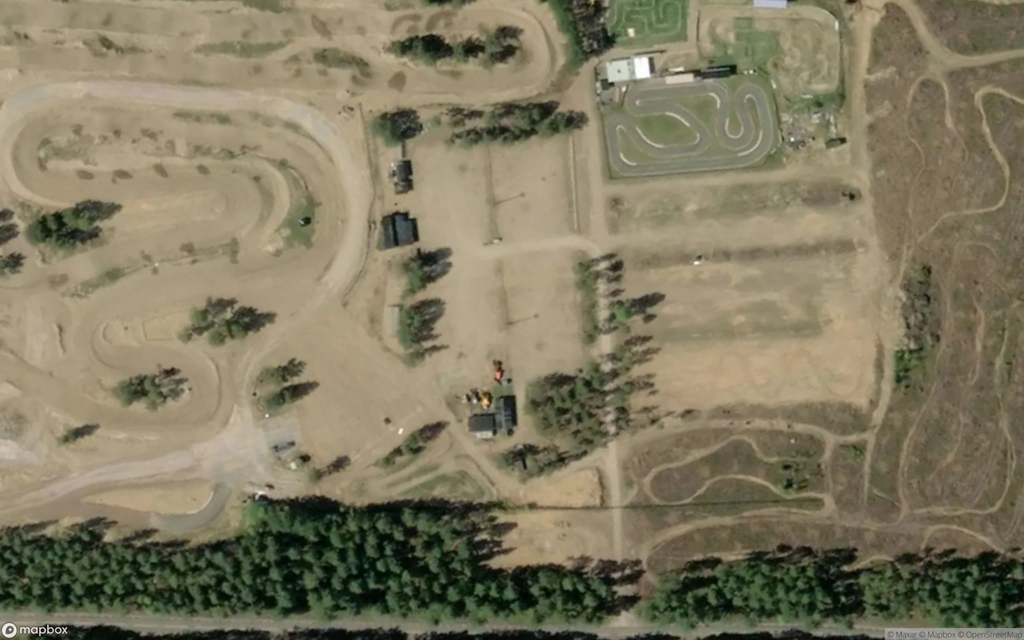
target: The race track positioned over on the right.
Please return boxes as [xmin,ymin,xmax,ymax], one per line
[605,82,772,175]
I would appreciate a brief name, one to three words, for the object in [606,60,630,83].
building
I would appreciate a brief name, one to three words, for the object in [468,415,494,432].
building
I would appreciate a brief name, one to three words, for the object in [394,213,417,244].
shed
